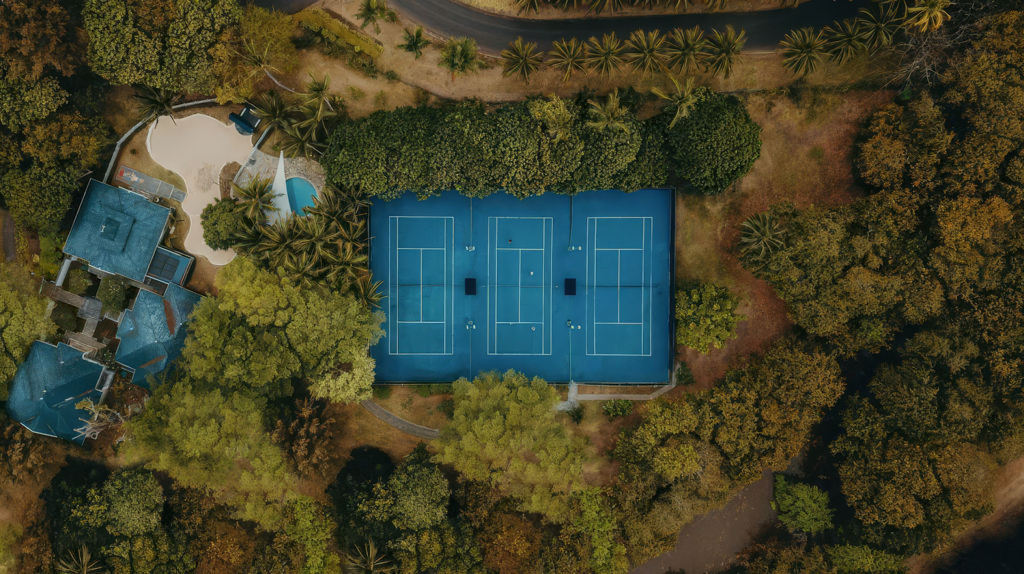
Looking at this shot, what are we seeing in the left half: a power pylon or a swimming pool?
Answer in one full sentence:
Visible in the left half is a swimming pool.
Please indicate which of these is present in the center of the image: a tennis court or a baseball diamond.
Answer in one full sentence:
What appears in the center of the image is a tennis court.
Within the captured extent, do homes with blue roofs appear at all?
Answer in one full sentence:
Yes, looking at the shot, I can spot a home with a blue roof.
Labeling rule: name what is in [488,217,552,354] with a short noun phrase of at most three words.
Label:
tennis court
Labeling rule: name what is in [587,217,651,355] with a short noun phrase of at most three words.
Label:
tennis court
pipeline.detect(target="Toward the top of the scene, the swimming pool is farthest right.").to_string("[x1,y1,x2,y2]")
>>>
[286,175,320,218]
